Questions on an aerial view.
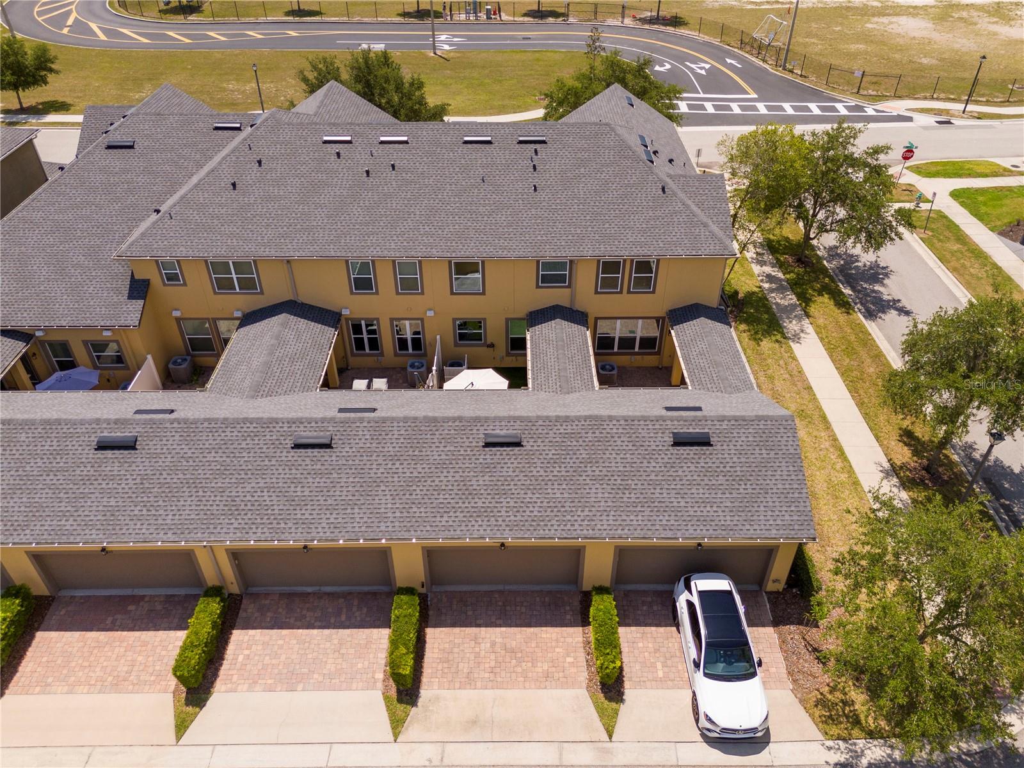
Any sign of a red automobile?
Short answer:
No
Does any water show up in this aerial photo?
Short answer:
No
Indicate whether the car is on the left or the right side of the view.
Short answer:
right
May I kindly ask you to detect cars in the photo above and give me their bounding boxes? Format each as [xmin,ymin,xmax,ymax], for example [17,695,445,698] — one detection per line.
[673,579,770,741]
